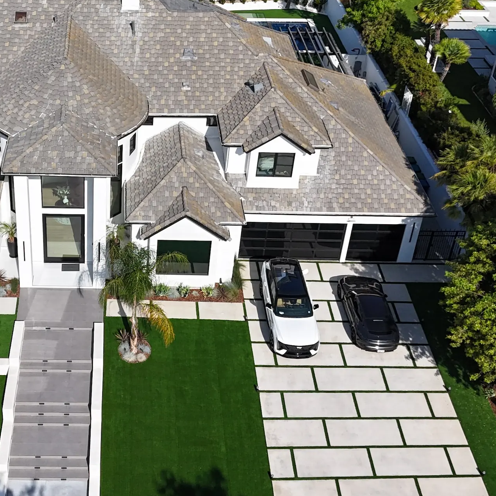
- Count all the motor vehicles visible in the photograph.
2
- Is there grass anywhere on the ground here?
Yes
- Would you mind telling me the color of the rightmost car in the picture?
black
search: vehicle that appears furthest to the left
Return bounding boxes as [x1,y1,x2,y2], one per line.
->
[261,261,322,353]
